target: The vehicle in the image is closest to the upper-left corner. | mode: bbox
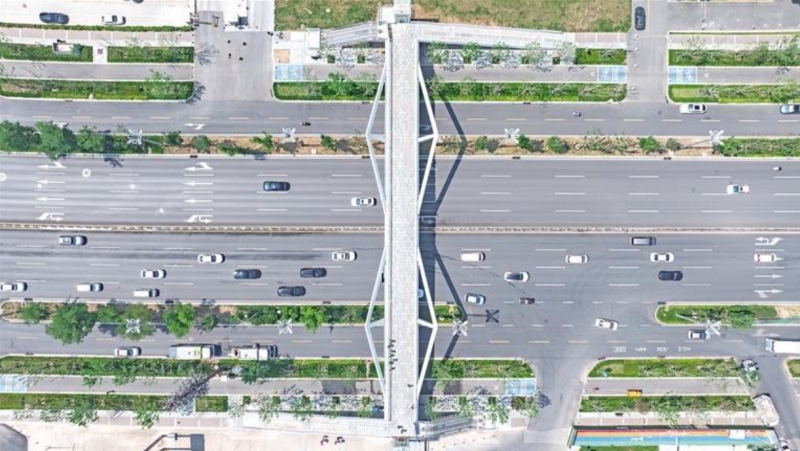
[41,10,68,23]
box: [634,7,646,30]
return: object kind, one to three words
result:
vehicle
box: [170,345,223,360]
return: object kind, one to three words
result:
vehicle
